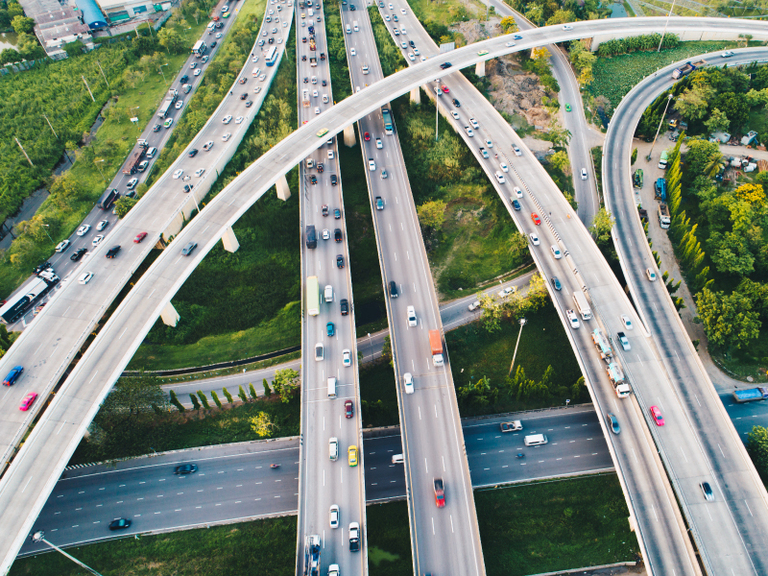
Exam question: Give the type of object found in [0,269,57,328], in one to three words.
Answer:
truck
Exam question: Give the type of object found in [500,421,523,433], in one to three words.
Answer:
vehicle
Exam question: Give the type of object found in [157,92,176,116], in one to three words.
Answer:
vehicle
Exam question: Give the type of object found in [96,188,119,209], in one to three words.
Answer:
truck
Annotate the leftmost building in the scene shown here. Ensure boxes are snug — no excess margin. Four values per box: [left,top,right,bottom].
[17,0,90,59]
